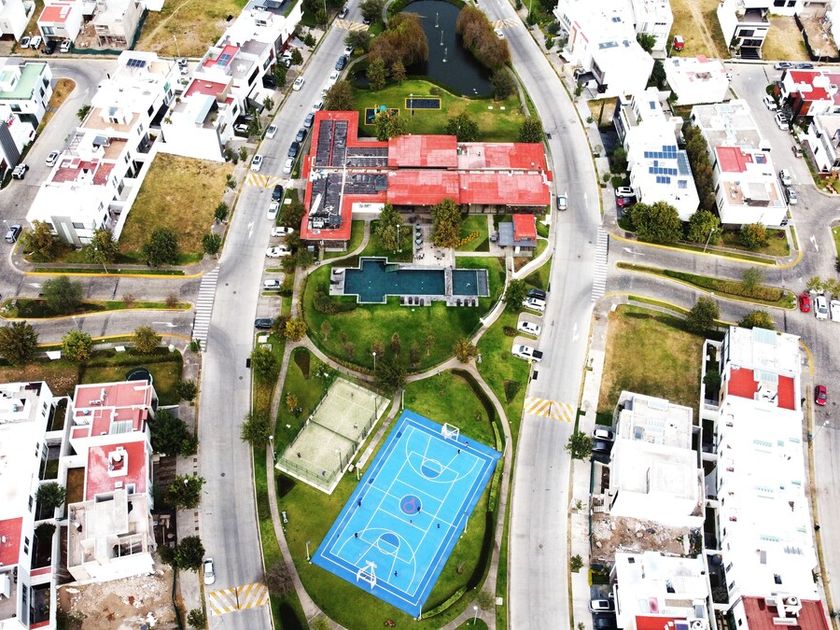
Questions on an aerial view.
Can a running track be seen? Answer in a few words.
No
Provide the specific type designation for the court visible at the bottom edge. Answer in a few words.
basketball court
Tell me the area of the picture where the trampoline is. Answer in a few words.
left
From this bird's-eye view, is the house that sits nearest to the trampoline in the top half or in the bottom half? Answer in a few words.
bottom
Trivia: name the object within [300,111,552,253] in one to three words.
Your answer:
building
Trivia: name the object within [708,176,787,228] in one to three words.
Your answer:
house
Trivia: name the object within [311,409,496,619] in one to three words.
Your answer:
basketball court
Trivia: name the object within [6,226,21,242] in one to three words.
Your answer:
car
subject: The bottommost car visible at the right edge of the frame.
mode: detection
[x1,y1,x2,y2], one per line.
[815,386,828,407]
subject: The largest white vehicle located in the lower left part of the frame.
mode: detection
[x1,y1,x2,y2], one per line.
[202,557,216,587]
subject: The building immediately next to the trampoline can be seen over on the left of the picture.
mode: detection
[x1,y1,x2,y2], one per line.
[70,381,161,456]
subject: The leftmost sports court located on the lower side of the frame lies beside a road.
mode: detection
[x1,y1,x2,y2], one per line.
[274,368,391,495]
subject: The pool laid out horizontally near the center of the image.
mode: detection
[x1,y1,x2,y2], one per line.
[330,256,490,306]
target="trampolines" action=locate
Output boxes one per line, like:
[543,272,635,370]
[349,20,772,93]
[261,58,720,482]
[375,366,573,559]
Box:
[121,358,149,381]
